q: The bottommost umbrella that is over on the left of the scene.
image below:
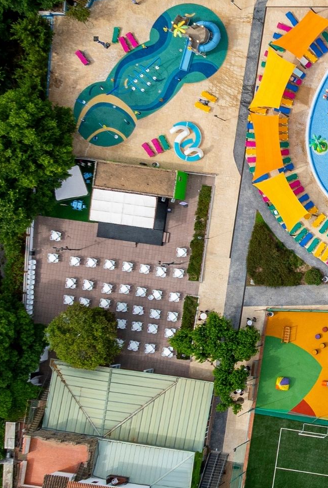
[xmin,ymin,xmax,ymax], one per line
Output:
[57,165,89,201]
